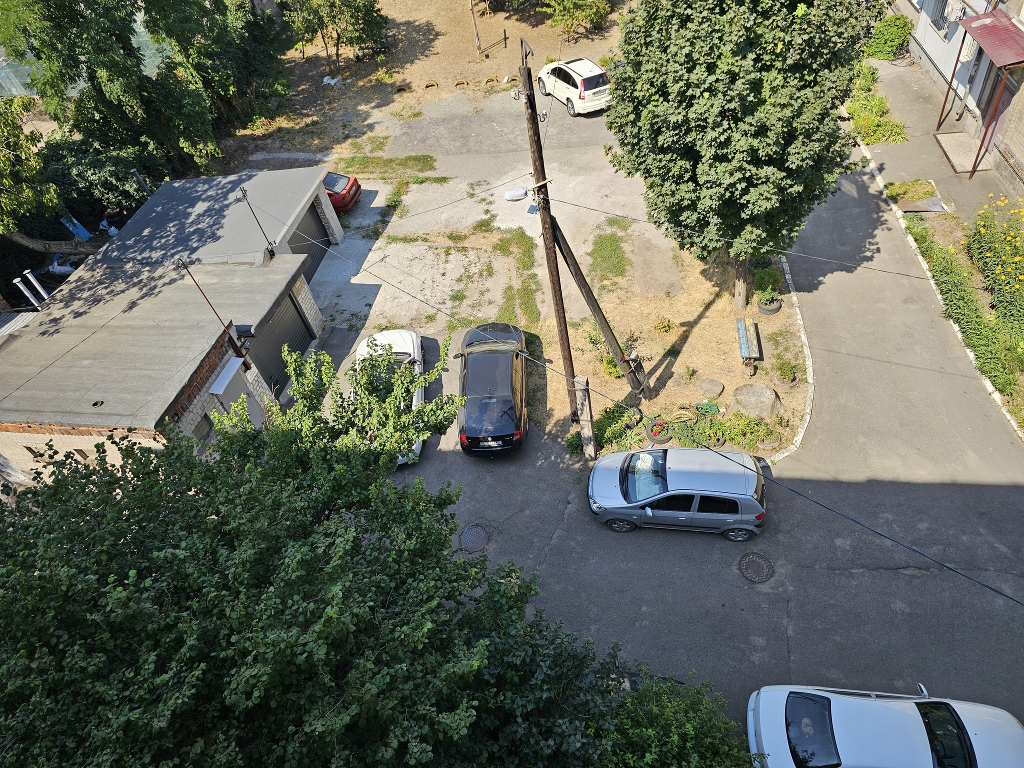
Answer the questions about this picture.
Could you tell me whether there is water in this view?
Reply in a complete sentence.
No, there's no water in this view.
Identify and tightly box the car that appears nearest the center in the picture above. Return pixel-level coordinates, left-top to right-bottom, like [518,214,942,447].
[455,323,532,462]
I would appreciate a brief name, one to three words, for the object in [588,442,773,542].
car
